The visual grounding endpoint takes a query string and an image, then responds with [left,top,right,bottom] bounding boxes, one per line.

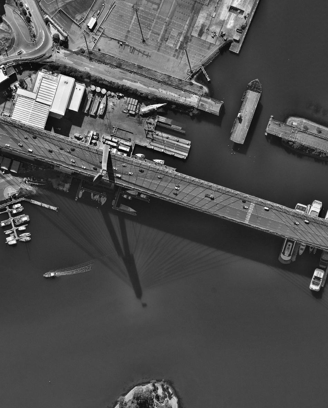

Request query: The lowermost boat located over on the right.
[311,267,327,291]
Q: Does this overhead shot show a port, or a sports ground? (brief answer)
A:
port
